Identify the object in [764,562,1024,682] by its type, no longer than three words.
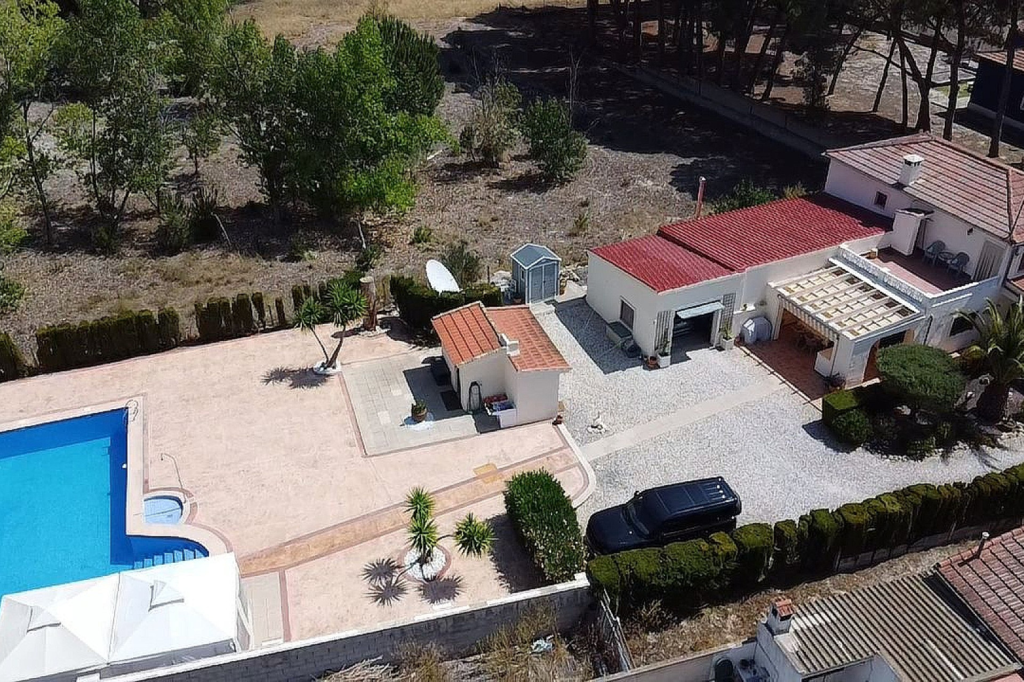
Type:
shed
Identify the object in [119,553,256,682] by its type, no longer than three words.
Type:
tent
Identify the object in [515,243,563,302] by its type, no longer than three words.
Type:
shed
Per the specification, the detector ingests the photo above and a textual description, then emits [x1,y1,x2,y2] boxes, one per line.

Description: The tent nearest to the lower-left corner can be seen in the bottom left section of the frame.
[0,577,121,682]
